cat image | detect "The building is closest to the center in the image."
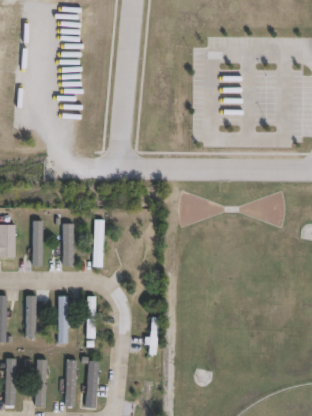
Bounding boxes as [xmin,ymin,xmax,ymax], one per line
[92,220,105,268]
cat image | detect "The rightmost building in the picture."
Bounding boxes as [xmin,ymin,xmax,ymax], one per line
[142,318,158,357]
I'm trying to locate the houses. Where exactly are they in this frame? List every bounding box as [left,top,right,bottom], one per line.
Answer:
[142,318,158,357]
[58,297,68,345]
[4,360,18,407]
[0,224,18,259]
[66,360,78,410]
[86,297,98,340]
[26,296,38,340]
[32,221,44,266]
[92,220,105,268]
[85,362,100,410]
[62,224,74,267]
[35,360,48,409]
